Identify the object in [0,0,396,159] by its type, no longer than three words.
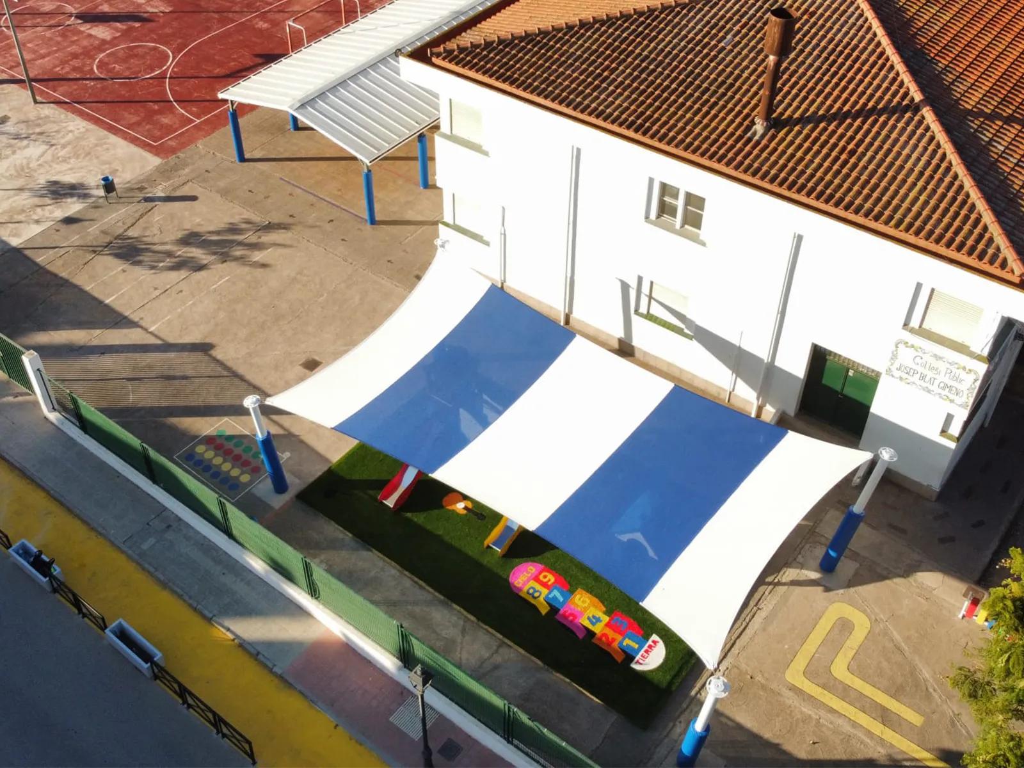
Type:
sports court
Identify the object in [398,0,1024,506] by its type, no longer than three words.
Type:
building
